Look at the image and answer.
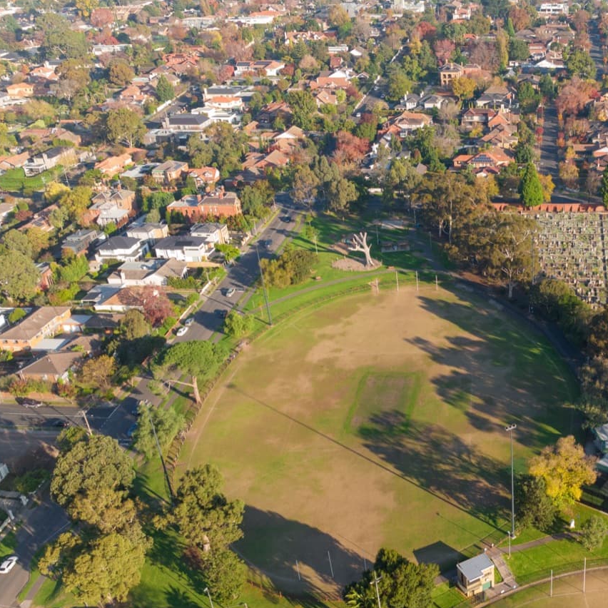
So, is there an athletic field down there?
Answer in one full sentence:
Yes, there's an athletic field here.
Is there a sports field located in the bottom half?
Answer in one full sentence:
Yes, looking in the bottom half, one can make out a sports field.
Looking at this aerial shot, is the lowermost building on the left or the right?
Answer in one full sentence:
The lowermost building appears in the right half of the scene.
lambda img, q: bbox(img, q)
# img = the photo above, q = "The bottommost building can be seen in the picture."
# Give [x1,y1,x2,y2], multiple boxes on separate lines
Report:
[447,539,500,596]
